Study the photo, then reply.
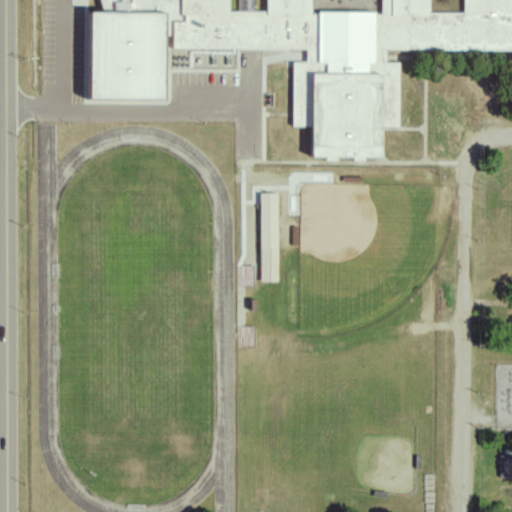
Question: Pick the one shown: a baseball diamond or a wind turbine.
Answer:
baseball diamond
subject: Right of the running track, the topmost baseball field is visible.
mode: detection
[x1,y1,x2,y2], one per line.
[300,184,454,334]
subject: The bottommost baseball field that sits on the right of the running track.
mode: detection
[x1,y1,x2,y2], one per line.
[360,436,412,493]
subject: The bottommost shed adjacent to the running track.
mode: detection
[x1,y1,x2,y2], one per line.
[261,193,280,282]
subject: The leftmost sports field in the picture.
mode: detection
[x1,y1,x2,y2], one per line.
[58,144,214,505]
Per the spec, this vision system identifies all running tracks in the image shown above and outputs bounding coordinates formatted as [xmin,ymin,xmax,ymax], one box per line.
[38,122,234,512]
